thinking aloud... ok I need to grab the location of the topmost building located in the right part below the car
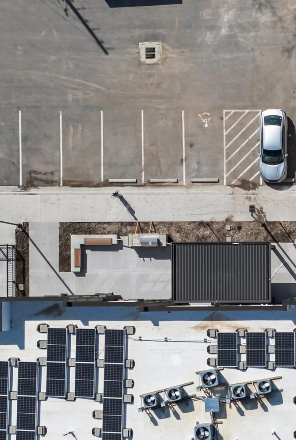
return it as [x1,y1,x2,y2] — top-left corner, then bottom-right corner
[172,243,273,303]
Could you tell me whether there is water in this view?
No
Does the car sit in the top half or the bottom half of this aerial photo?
top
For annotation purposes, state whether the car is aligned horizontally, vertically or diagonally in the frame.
vertically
